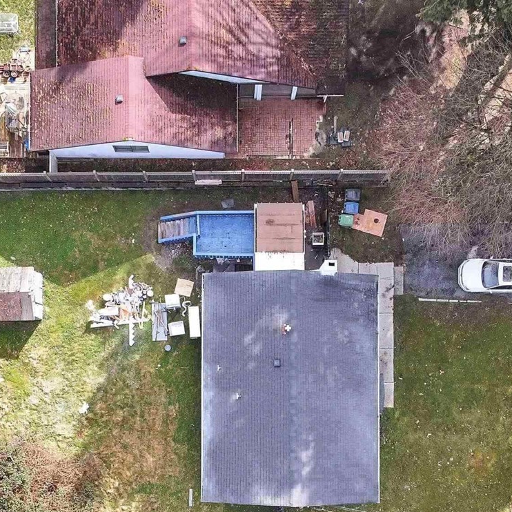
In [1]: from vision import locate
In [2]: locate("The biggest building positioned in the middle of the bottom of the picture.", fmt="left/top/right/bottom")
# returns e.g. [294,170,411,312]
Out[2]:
[198,258,382,509]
